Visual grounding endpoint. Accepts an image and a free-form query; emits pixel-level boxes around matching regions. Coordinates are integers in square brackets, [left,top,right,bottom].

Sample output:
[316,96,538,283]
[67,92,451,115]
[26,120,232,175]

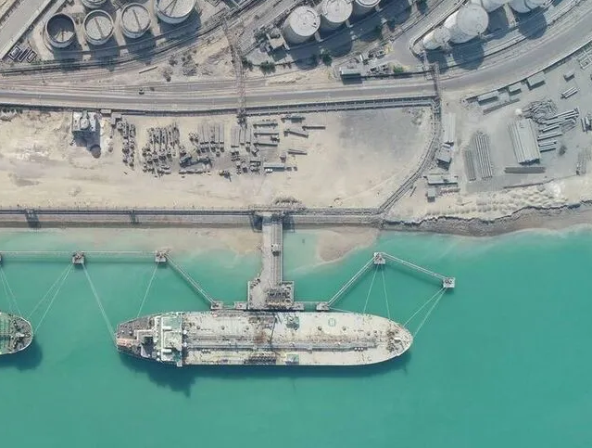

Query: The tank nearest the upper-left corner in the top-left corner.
[45,12,76,51]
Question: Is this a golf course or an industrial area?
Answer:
industrial area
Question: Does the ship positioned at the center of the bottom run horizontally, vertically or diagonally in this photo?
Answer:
horizontally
